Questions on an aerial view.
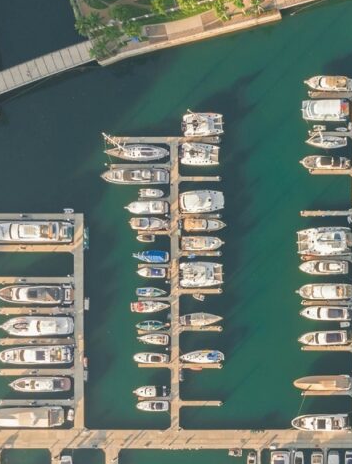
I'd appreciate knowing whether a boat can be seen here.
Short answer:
Yes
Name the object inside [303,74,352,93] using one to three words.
boat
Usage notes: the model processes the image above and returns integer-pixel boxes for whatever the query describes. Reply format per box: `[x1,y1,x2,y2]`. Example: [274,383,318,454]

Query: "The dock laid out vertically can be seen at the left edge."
[0,211,85,430]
